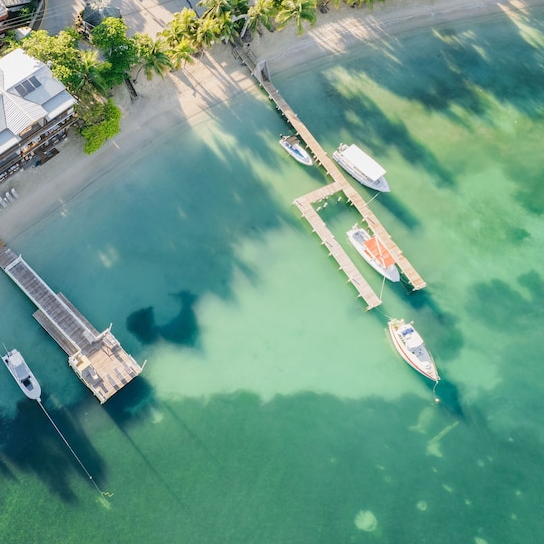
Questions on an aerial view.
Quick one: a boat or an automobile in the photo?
boat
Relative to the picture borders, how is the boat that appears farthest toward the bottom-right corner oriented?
diagonally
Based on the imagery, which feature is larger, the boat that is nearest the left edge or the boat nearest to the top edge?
the boat that is nearest the left edge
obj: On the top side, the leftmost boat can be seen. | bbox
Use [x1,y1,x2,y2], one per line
[278,133,312,166]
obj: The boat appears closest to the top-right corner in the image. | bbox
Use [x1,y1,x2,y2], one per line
[332,147,397,198]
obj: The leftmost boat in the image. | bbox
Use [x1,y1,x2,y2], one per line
[1,343,44,402]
